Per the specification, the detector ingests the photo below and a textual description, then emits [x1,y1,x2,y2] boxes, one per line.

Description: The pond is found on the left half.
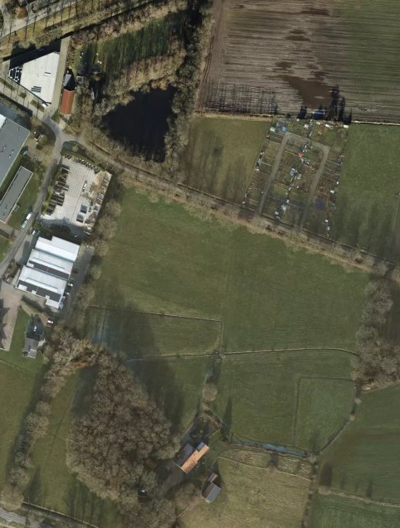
[99,85,178,164]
